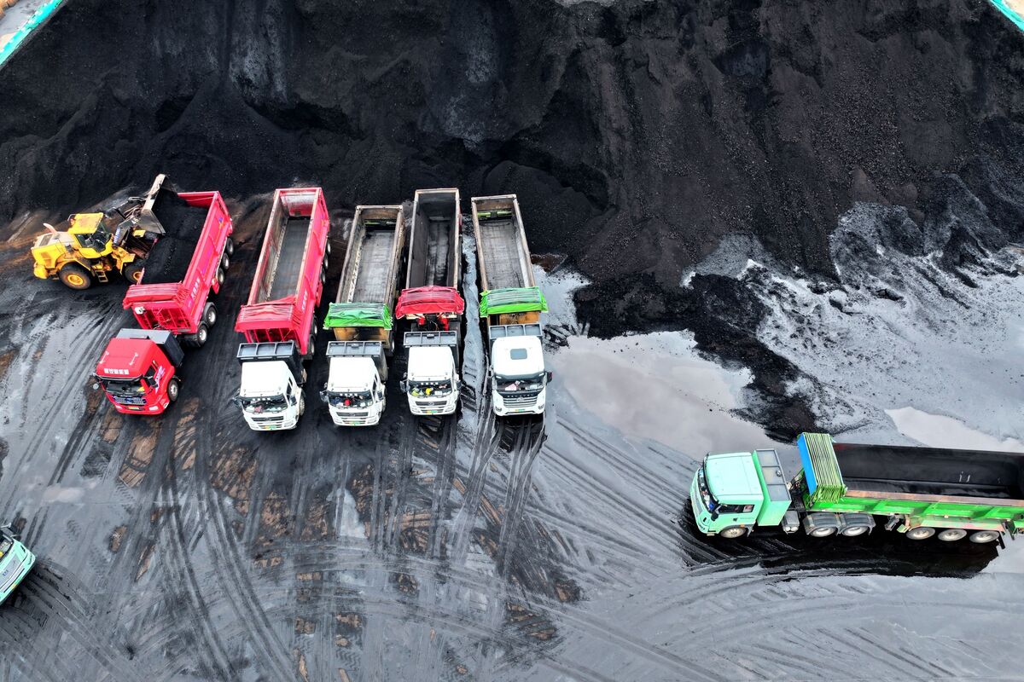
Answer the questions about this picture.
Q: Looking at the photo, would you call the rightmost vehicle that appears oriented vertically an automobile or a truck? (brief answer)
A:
truck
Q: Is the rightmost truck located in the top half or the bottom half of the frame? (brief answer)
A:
bottom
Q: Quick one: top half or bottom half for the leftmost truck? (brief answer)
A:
bottom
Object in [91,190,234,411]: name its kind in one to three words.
truck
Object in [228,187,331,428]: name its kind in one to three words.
truck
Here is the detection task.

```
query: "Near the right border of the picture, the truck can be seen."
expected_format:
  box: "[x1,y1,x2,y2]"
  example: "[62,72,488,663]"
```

[693,435,1024,543]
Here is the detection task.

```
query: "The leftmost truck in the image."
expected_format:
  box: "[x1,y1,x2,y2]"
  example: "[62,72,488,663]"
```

[0,528,36,610]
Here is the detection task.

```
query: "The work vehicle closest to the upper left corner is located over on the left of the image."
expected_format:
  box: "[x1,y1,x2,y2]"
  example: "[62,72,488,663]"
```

[29,172,177,289]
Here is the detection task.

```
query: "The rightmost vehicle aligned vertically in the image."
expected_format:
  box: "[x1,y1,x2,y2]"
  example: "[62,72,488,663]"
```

[471,194,555,414]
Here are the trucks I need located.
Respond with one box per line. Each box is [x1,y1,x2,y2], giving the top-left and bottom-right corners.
[91,190,234,411]
[228,187,331,428]
[693,435,1024,543]
[315,205,407,425]
[471,194,555,414]
[395,188,465,414]
[0,528,36,610]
